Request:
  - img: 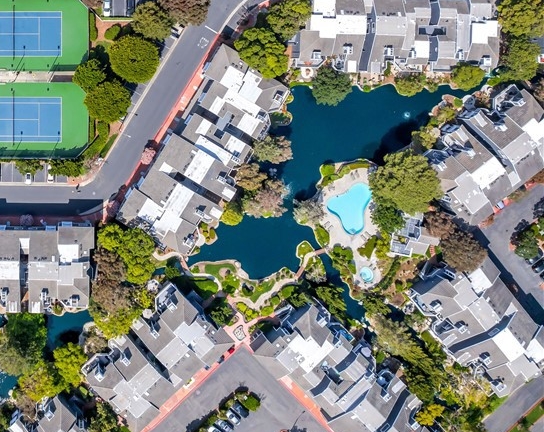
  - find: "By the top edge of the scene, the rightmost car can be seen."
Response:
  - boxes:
[219,20,235,40]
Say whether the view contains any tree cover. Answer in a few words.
Yes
